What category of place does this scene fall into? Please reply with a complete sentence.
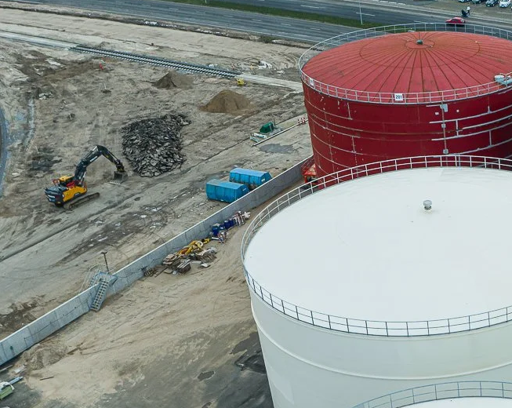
The area seen from above is an industrial area.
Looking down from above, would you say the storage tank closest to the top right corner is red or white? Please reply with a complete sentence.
The color of the storage tank closest to the top right corner is red.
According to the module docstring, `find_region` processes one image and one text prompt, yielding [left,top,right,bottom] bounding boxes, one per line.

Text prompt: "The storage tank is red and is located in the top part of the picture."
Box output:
[299,23,512,188]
